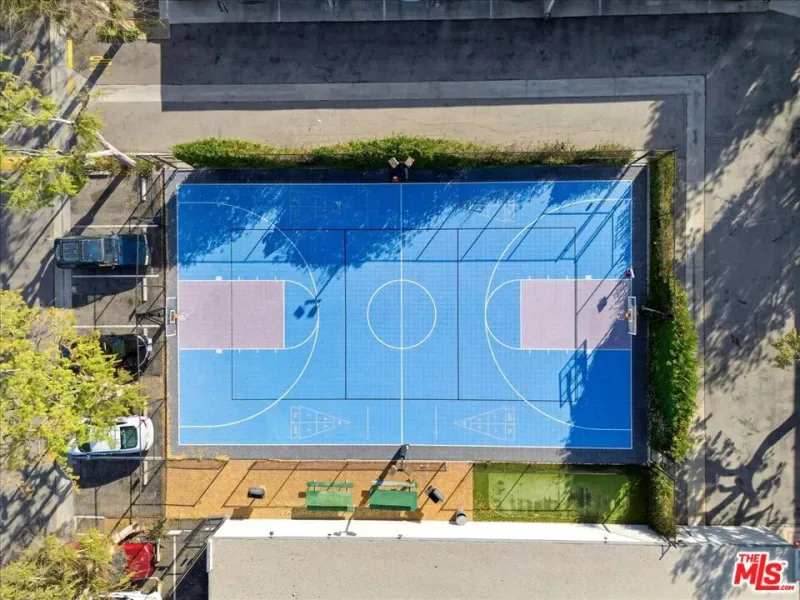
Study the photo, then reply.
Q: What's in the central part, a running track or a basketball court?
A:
basketball court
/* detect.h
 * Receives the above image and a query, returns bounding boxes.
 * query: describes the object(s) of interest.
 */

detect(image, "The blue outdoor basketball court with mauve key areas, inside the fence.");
[166,165,648,464]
